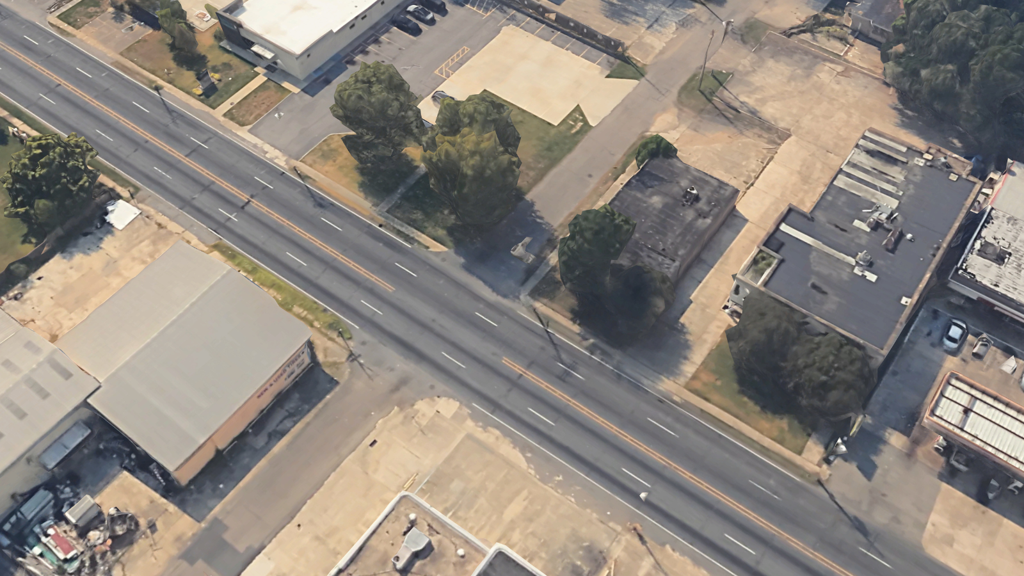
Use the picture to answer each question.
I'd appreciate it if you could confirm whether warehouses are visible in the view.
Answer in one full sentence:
Yes, there is a warehouse in the image.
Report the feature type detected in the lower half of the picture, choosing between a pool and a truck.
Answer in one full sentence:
What appears in the lower half of the picture is a truck.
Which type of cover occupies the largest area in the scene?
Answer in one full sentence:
Most of the picture is covered by paved ground.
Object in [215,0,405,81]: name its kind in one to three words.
building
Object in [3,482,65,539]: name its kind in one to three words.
truck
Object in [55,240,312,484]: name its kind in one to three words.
building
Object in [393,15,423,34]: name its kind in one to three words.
car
